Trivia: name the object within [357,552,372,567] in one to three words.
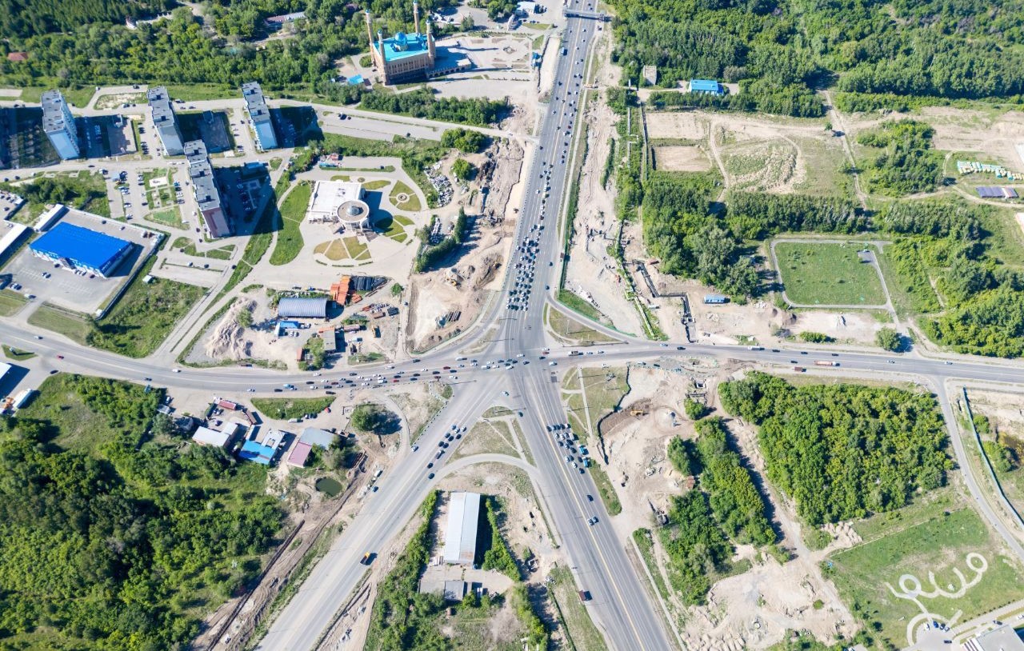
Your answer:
vehicle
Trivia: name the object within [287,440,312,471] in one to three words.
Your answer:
building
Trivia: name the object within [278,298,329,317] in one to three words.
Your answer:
hangar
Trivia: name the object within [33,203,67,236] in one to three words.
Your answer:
shed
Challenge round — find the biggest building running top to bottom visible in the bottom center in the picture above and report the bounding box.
[443,492,480,568]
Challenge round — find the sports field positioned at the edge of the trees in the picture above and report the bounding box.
[770,239,904,329]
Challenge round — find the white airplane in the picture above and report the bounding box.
[435,14,458,27]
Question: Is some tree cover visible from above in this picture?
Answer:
Yes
